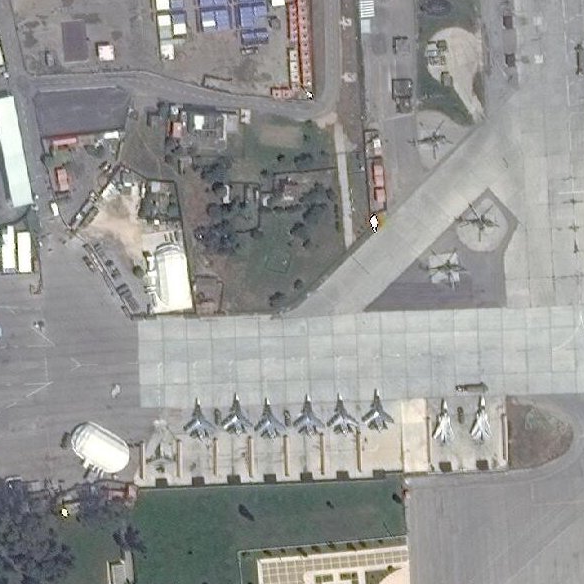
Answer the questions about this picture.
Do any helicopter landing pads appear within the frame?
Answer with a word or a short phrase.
Yes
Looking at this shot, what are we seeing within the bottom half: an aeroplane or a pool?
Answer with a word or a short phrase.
aeroplane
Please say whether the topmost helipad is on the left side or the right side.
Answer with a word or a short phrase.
right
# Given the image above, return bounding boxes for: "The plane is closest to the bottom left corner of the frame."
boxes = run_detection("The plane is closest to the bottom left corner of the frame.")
[145,419,176,461]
